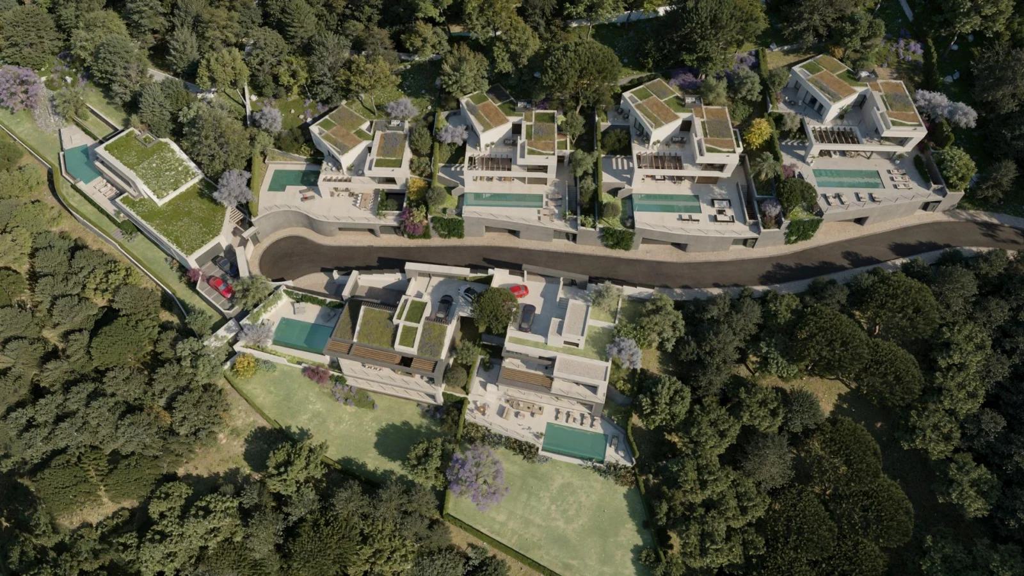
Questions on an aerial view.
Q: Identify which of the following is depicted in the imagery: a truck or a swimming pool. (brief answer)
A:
swimming pool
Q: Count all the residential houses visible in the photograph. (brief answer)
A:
7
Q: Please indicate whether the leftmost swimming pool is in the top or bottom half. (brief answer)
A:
top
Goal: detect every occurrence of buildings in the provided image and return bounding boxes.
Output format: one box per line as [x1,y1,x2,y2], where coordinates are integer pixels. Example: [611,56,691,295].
[466,268,636,471]
[441,86,580,249]
[766,55,948,228]
[233,270,488,408]
[59,123,245,322]
[606,78,762,254]
[253,104,413,239]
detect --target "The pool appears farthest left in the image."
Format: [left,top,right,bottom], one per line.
[65,145,102,183]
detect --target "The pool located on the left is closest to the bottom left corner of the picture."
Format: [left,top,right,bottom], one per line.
[273,318,334,355]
